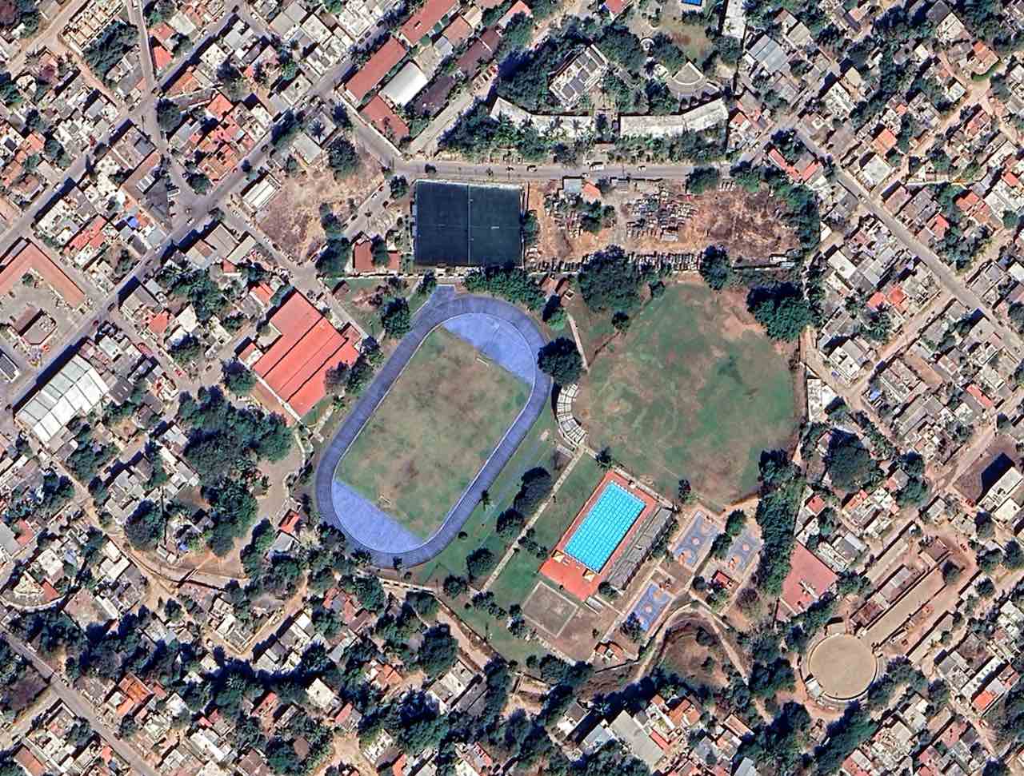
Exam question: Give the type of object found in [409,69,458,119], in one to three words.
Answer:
building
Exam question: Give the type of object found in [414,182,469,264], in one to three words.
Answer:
sports field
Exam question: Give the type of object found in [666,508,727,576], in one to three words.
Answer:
basketball court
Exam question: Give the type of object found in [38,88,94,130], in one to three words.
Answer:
house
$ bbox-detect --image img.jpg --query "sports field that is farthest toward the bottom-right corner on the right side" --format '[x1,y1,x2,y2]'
[576,279,800,506]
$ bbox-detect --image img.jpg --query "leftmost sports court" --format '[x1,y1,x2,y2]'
[522,581,580,638]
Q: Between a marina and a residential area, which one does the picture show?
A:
residential area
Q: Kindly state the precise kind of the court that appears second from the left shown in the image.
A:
basketball court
